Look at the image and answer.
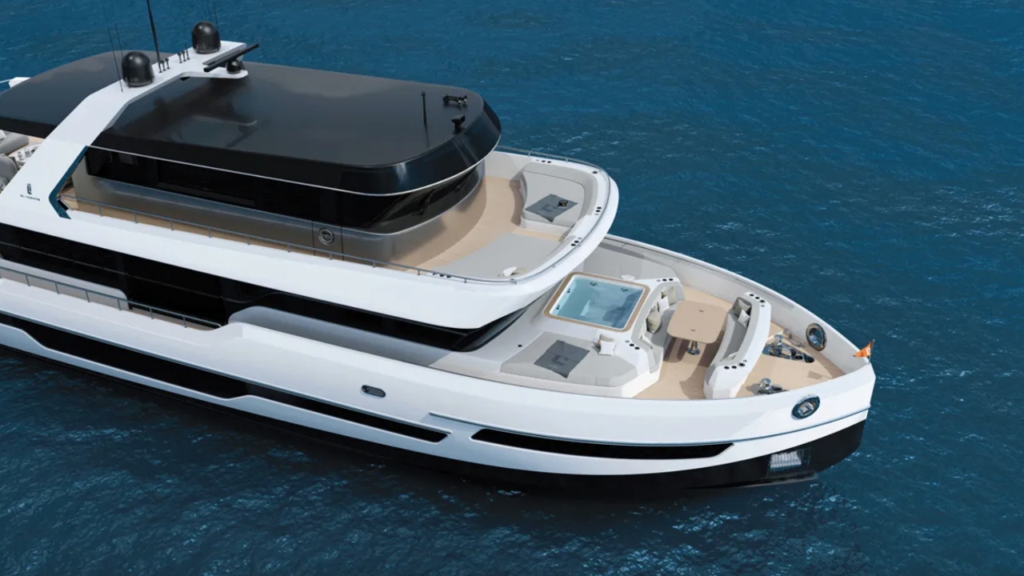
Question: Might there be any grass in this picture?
No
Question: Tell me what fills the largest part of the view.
water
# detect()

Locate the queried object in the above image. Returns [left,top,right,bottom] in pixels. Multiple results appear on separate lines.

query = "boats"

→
[0,0,876,497]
